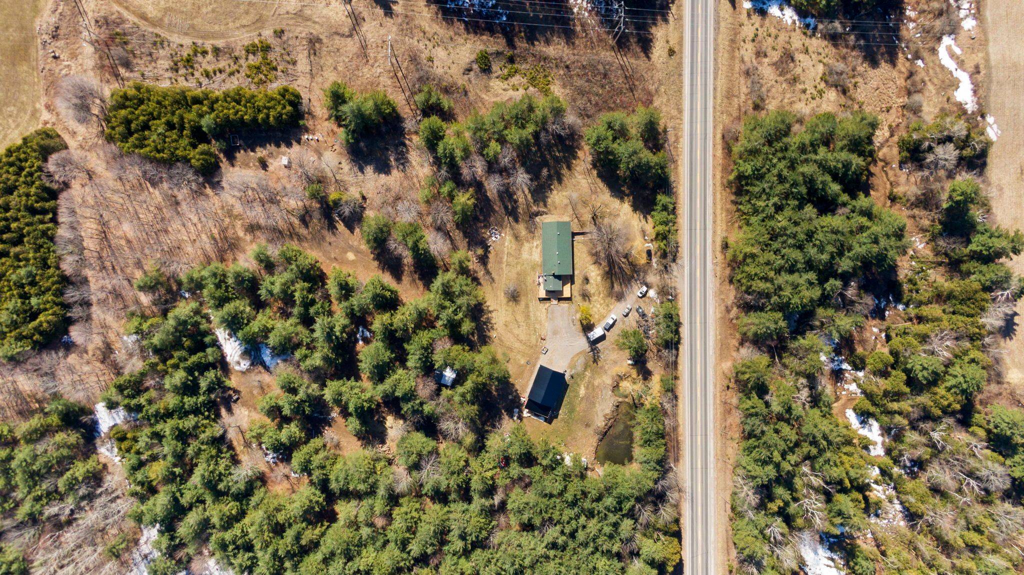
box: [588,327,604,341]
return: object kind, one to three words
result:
camper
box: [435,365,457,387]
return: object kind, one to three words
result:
shed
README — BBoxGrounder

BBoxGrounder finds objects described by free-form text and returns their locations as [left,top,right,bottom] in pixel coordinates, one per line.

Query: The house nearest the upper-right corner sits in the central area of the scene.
[540,221,596,303]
